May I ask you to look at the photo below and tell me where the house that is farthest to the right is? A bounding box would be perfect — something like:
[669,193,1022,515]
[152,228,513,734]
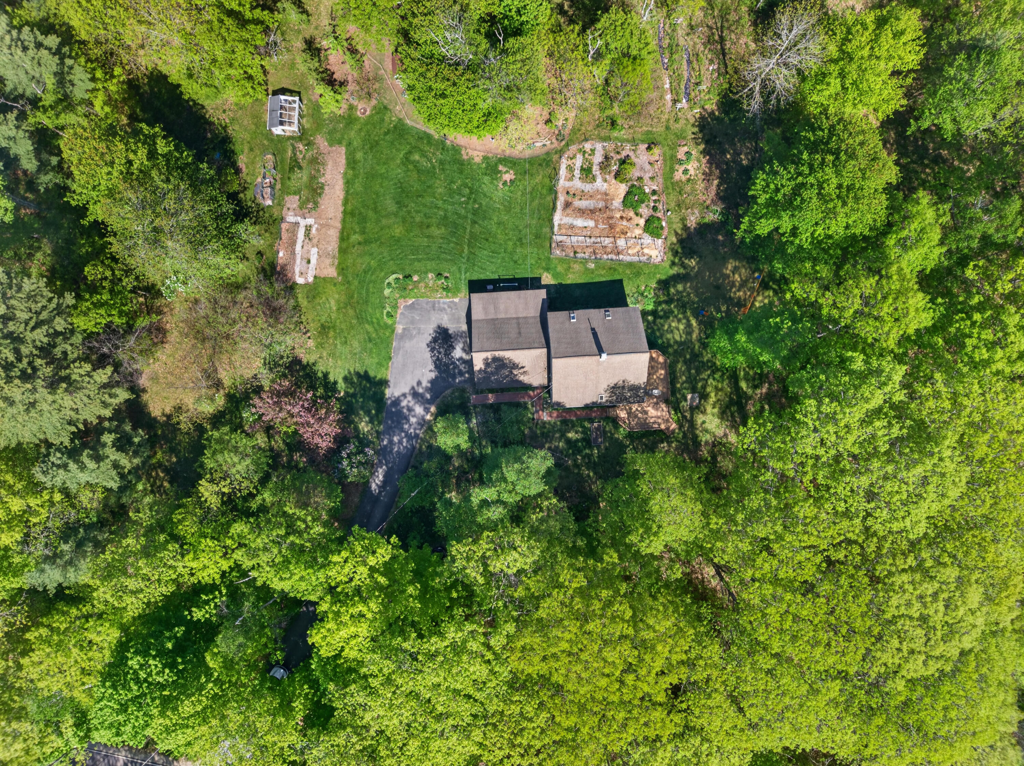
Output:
[546,304,649,409]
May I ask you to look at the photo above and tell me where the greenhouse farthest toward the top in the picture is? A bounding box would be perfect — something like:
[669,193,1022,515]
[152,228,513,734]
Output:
[267,92,304,135]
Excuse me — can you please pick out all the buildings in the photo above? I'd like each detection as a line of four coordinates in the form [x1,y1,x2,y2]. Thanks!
[546,304,649,409]
[267,92,304,135]
[468,289,548,389]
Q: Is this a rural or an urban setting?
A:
rural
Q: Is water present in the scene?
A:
No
